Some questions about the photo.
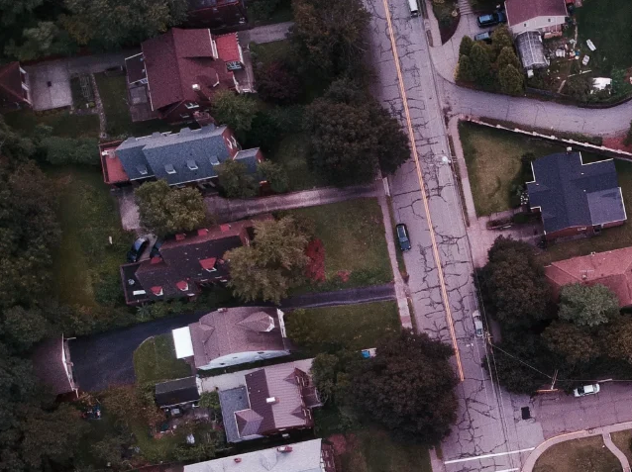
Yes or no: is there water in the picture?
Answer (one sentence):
No, the scene doesn't show any water.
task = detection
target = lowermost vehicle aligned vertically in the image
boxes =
[470,310,485,340]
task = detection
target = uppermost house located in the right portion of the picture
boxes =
[504,0,568,43]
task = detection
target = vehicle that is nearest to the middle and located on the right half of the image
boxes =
[395,222,412,252]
